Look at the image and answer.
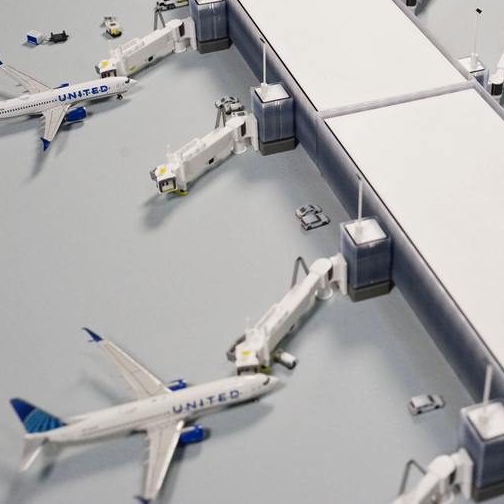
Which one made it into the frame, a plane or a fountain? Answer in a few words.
plane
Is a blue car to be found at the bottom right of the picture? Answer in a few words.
No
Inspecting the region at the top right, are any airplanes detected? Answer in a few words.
No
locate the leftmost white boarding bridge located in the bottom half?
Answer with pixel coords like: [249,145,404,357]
[227,251,350,376]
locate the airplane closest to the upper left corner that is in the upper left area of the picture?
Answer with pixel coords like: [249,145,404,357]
[0,60,136,148]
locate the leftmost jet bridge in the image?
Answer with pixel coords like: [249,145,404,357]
[94,10,200,77]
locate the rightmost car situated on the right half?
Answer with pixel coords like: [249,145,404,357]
[409,393,443,413]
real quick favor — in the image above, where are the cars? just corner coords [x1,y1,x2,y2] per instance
[302,213,330,229]
[215,96,239,108]
[409,393,443,413]
[295,204,323,218]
